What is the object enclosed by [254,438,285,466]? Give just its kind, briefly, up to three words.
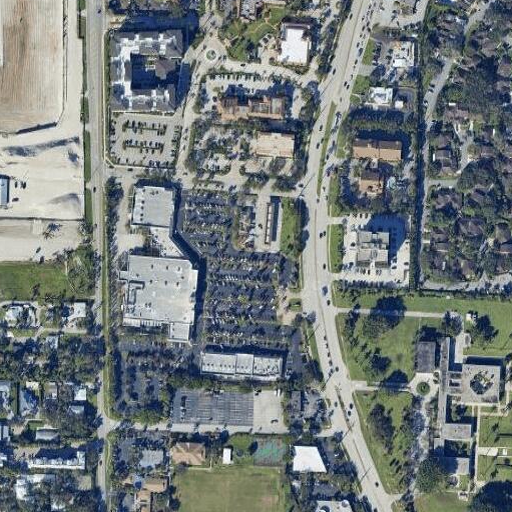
sports court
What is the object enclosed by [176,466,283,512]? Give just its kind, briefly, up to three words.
sports field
